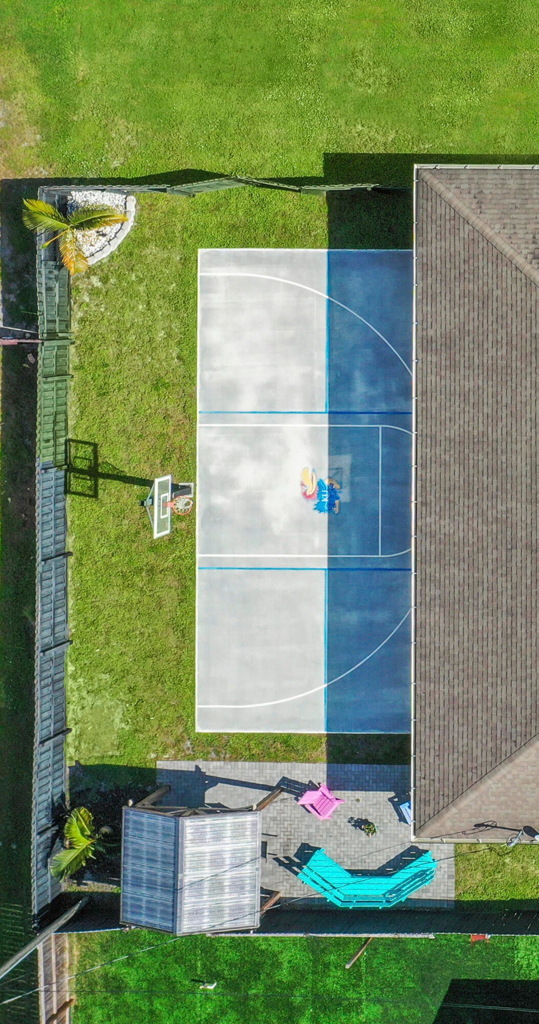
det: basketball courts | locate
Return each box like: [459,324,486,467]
[196,248,412,733]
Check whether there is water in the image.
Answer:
No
